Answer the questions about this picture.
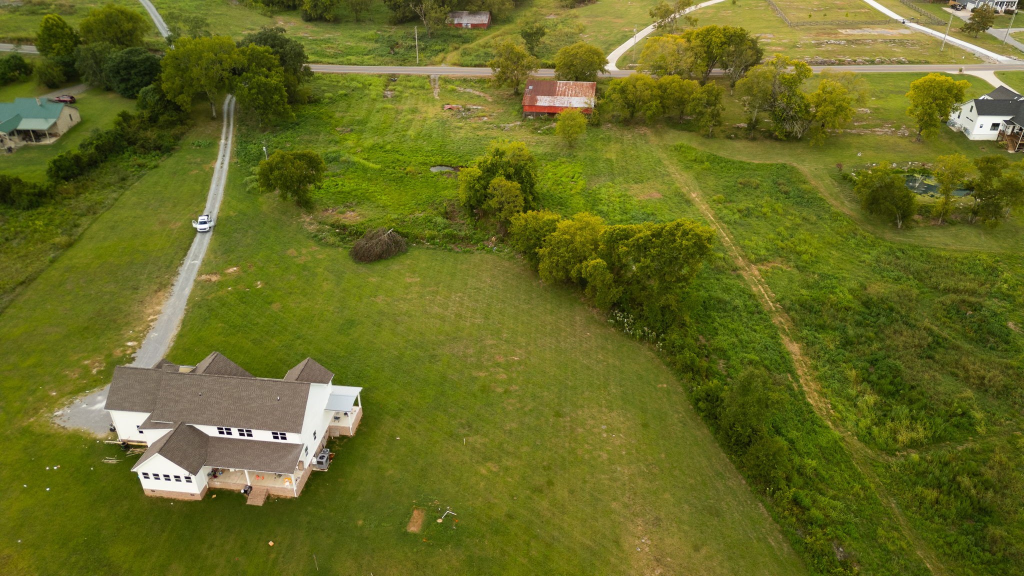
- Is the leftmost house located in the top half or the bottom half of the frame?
top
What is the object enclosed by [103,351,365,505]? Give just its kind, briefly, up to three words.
house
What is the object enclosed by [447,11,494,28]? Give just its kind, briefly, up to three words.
shed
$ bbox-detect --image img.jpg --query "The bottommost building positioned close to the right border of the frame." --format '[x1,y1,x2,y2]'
[955,86,1024,152]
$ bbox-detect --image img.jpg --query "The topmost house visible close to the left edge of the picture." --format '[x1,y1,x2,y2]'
[0,97,80,146]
